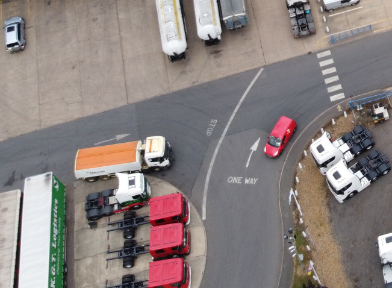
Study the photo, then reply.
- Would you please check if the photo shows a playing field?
No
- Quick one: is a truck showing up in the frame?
Yes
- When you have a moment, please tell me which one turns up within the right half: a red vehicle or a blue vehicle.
red vehicle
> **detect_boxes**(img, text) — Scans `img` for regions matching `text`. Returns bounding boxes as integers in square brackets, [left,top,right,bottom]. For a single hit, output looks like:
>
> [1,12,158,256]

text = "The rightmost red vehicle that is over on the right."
[262,113,302,158]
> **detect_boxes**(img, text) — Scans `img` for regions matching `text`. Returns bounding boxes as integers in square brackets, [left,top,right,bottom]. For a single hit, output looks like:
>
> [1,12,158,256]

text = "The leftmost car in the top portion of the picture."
[2,16,26,53]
